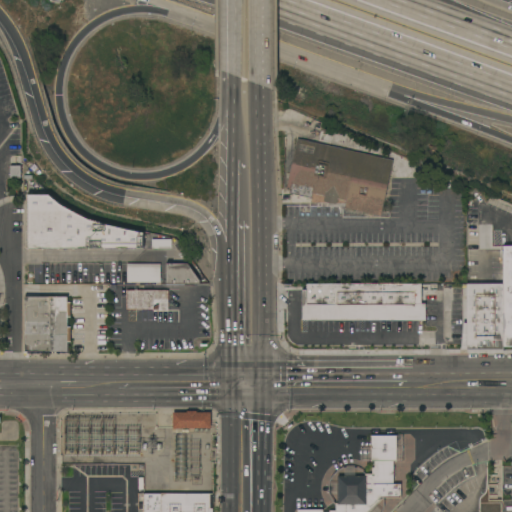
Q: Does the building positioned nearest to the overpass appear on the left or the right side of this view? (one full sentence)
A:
You can find the building positioned nearest to the overpass on the right side of the picture.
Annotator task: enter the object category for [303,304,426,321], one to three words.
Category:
building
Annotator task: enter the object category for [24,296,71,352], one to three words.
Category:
building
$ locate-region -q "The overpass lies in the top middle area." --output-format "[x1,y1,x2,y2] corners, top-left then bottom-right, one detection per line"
[216,0,278,92]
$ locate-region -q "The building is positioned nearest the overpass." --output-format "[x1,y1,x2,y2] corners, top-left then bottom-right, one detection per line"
[288,138,392,217]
